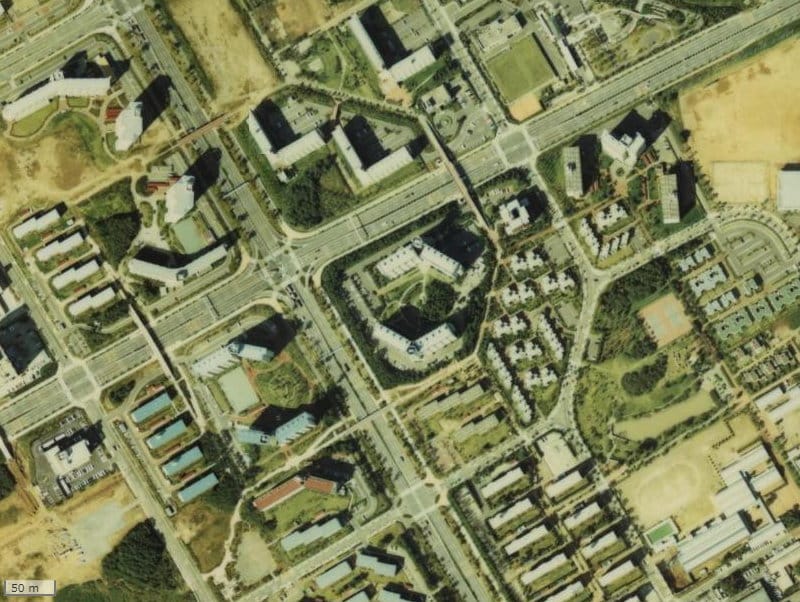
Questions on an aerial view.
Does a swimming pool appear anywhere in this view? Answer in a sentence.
Yes, there is a swimming pool in the image.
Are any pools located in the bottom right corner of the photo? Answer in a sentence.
Yes, a pool shows up in the bottom right corner of the photo.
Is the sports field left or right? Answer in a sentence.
The sports field sits on the right side.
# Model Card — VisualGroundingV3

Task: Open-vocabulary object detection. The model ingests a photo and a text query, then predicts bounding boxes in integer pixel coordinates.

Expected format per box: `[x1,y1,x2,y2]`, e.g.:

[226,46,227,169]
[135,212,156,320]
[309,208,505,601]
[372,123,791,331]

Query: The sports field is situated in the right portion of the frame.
[486,34,555,104]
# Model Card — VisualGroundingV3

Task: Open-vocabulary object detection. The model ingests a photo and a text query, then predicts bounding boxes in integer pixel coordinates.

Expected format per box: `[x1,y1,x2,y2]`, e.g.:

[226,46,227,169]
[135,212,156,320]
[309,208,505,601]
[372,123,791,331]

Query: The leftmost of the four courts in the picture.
[173,213,209,254]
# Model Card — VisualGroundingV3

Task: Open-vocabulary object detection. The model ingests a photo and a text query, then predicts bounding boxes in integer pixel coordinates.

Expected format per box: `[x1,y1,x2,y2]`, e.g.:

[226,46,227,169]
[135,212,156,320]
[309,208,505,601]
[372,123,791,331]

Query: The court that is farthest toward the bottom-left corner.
[219,366,259,413]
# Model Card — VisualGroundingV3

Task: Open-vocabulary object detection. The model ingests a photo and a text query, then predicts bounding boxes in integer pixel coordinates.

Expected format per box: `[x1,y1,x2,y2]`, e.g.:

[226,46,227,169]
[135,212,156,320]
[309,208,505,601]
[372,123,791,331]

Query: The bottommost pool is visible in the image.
[644,518,679,546]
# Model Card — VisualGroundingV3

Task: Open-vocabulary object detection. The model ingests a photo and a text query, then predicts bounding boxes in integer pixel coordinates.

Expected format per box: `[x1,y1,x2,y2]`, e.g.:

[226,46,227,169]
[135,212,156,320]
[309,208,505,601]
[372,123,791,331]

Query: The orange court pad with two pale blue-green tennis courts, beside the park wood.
[640,293,689,347]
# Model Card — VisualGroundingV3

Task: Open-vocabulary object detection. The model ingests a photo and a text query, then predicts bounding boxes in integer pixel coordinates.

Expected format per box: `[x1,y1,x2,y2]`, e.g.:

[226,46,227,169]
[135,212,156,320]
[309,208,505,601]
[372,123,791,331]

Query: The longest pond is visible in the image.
[611,388,717,440]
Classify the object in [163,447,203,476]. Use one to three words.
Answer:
building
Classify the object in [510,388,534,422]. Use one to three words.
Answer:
house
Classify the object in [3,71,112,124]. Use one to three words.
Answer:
building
